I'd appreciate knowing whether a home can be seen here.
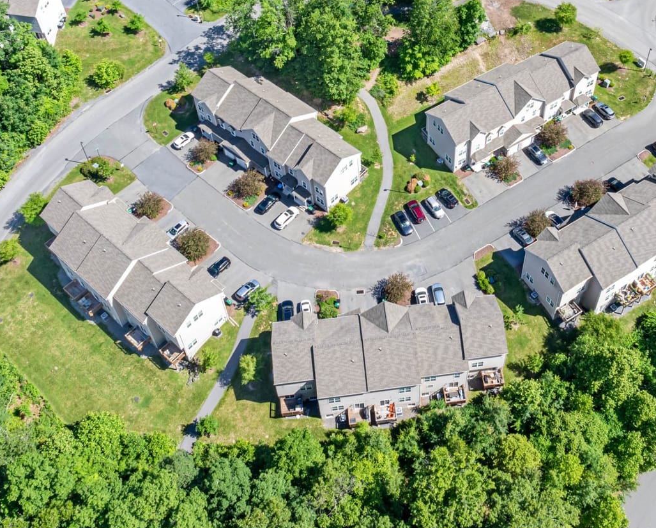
Yes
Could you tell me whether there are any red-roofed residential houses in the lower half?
No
